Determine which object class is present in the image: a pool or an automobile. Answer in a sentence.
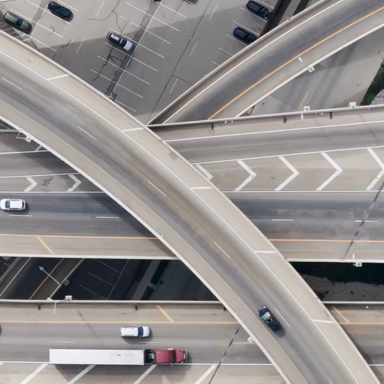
The image shows an automobile.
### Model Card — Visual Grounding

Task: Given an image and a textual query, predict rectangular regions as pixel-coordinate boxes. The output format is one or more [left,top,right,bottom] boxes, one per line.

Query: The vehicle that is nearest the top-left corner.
[0,9,31,34]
